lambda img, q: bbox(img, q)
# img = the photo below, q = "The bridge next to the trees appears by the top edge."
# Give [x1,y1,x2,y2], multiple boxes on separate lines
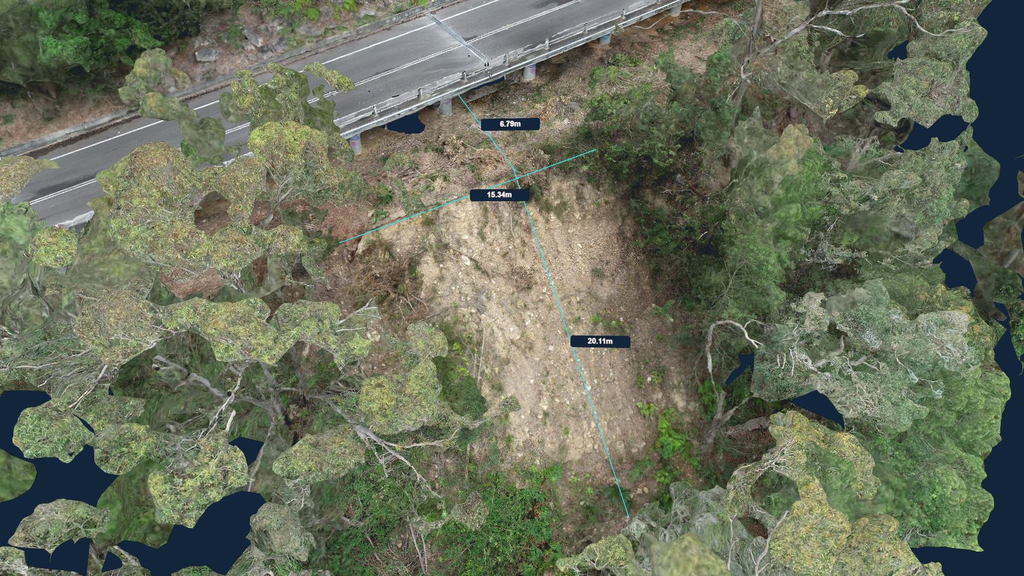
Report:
[320,0,694,155]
